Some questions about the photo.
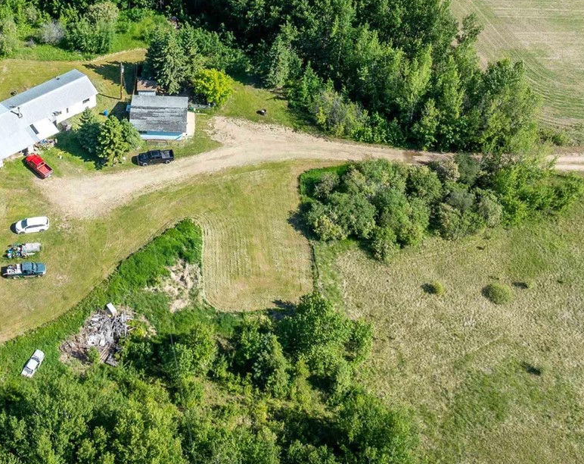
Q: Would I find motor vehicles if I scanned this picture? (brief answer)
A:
Yes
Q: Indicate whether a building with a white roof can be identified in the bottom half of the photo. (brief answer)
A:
No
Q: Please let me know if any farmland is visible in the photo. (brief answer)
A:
Yes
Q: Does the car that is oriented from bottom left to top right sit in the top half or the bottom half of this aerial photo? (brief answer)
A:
bottom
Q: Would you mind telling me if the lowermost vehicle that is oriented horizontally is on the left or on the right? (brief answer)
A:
left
